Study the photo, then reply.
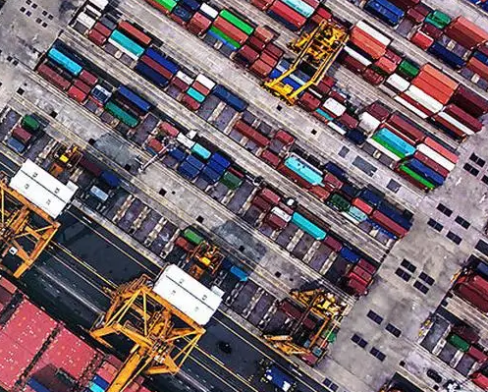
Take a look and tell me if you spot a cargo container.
Yes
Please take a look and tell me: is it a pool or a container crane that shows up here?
container crane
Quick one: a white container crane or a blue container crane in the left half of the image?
white container crane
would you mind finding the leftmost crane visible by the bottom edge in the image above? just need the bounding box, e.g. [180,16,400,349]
[86,257,230,392]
